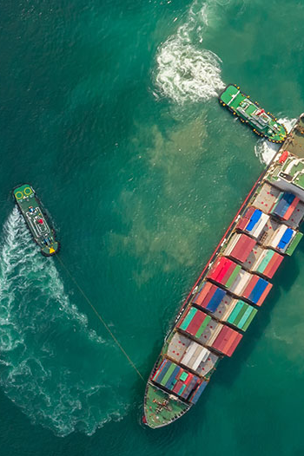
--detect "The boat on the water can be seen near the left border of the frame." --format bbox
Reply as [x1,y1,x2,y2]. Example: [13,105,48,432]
[13,182,60,258]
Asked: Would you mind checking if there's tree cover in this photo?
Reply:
No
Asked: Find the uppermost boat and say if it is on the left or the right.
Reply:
right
